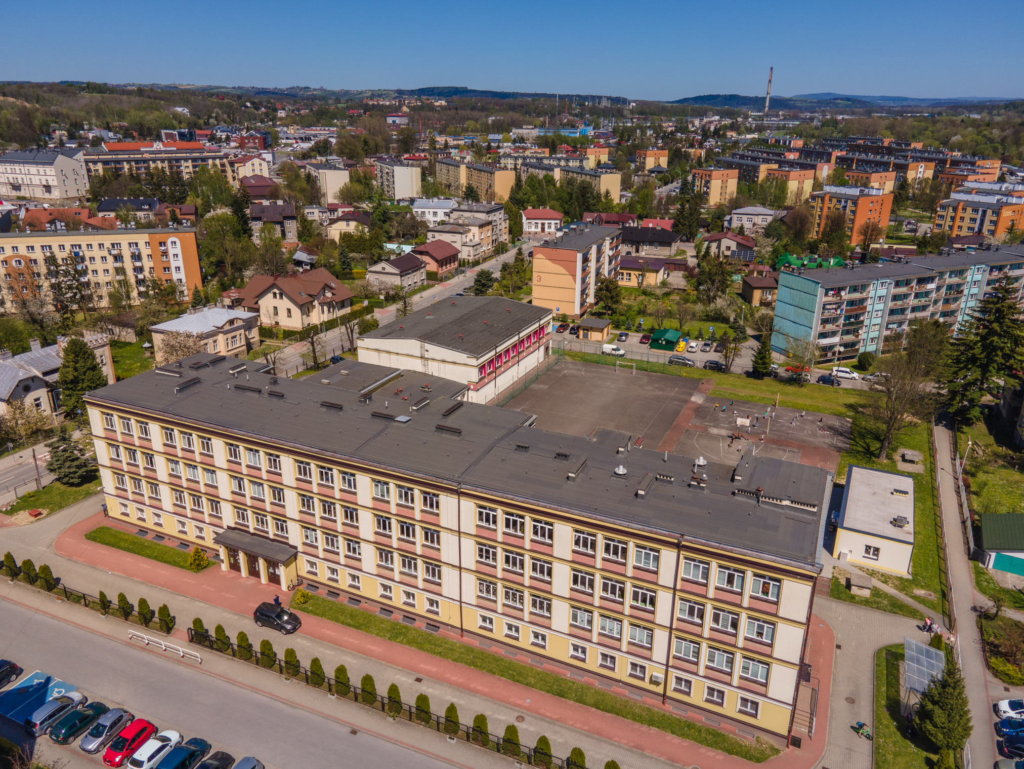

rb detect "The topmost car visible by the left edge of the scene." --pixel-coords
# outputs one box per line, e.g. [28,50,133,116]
[0,658,22,687]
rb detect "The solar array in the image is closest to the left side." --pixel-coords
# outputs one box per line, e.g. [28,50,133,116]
[724,246,767,265]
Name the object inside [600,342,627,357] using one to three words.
vehicle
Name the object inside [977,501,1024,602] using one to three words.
building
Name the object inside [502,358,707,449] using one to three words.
sports court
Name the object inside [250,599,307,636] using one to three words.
car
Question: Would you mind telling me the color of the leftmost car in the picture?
black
